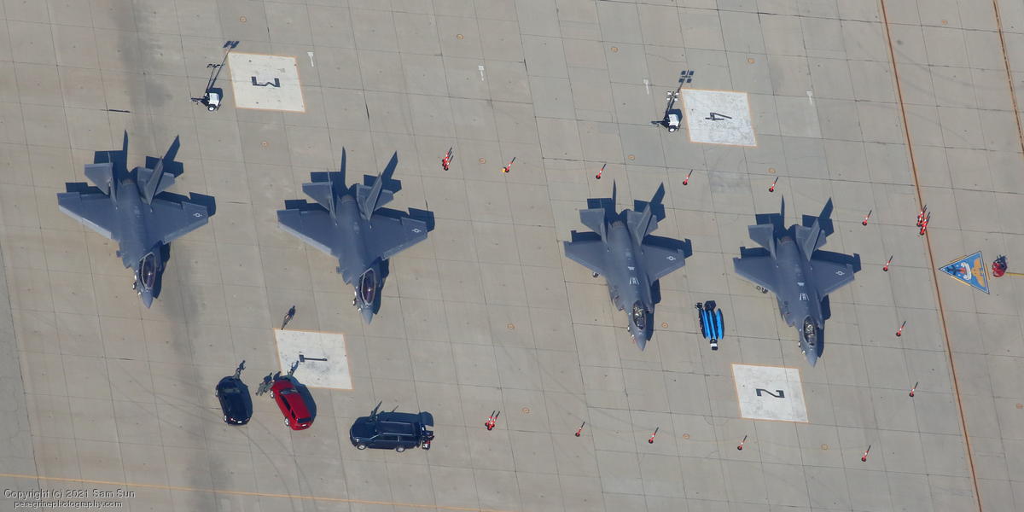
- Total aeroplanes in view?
four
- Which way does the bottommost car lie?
from left to right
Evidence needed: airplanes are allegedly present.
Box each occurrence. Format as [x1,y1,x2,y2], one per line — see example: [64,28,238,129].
[60,156,210,309]
[280,170,430,323]
[734,221,856,367]
[564,202,686,350]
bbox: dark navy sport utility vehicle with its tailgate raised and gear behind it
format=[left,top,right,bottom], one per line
[348,420,429,453]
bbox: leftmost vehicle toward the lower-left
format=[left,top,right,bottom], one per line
[214,381,250,429]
